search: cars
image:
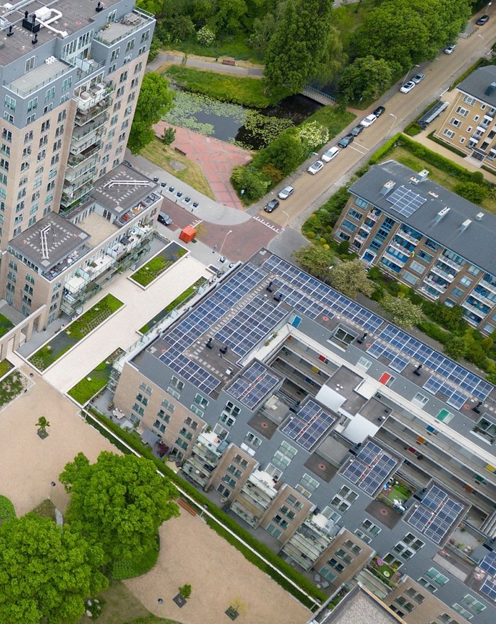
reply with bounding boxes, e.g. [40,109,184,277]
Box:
[306,160,325,174]
[476,13,490,23]
[337,132,355,148]
[400,78,417,92]
[412,72,426,83]
[373,103,388,116]
[278,183,296,198]
[263,197,282,212]
[321,145,340,161]
[350,122,365,135]
[443,42,458,54]
[361,111,378,125]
